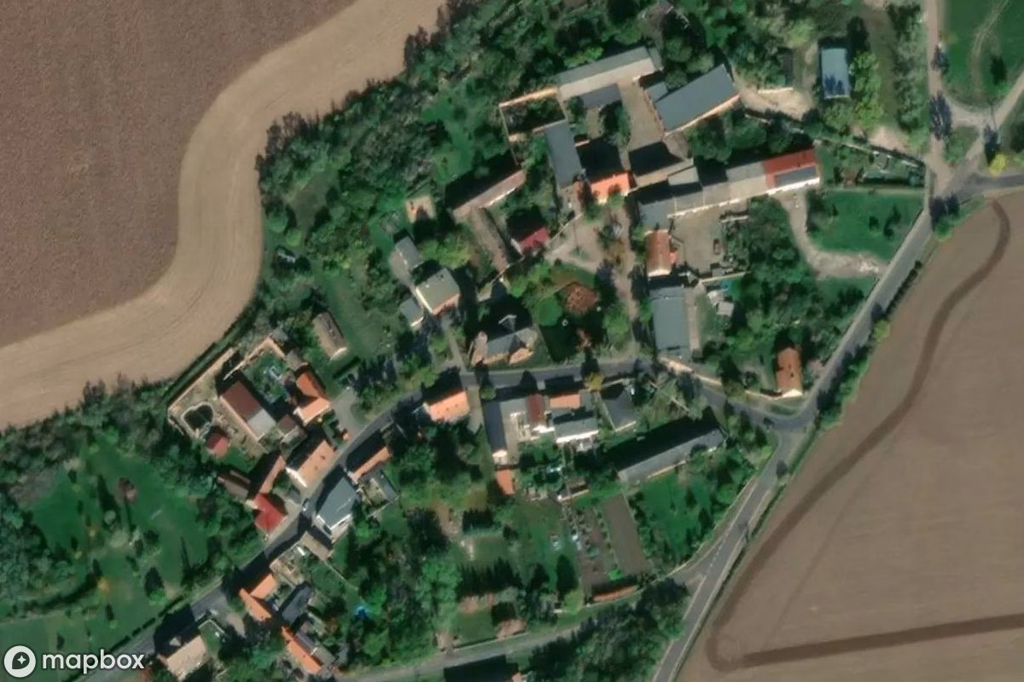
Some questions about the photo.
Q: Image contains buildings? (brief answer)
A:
Yes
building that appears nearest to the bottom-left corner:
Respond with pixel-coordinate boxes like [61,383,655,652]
[154,631,207,682]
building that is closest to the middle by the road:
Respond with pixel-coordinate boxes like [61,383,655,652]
[467,318,535,369]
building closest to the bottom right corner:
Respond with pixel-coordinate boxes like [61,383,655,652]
[772,350,803,398]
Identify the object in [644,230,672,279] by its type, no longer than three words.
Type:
house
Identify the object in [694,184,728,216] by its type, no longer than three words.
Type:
barn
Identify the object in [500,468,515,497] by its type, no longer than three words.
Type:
shed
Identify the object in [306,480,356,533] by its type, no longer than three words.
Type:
building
